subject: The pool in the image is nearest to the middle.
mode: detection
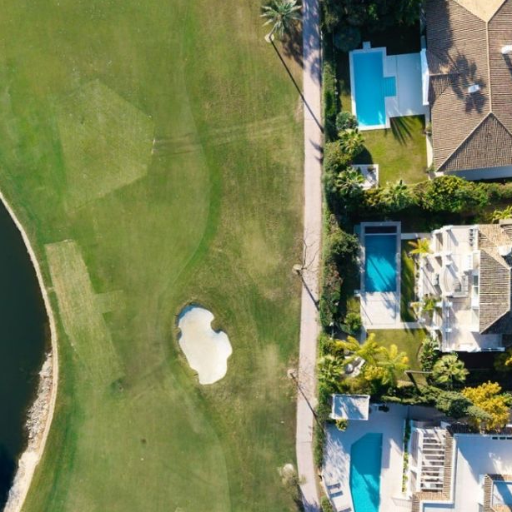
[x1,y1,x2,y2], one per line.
[359,221,419,330]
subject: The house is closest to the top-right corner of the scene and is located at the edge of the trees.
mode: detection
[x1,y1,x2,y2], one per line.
[410,0,512,171]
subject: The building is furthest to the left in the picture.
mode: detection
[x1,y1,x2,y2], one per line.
[327,395,370,420]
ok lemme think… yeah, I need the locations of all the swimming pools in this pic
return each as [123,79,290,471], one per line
[323,405,410,512]
[349,41,426,130]
[359,221,419,330]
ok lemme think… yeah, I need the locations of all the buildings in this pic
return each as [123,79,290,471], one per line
[327,395,370,420]
[404,422,512,512]
[415,219,512,352]
[410,0,512,171]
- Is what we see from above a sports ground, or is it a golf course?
golf course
